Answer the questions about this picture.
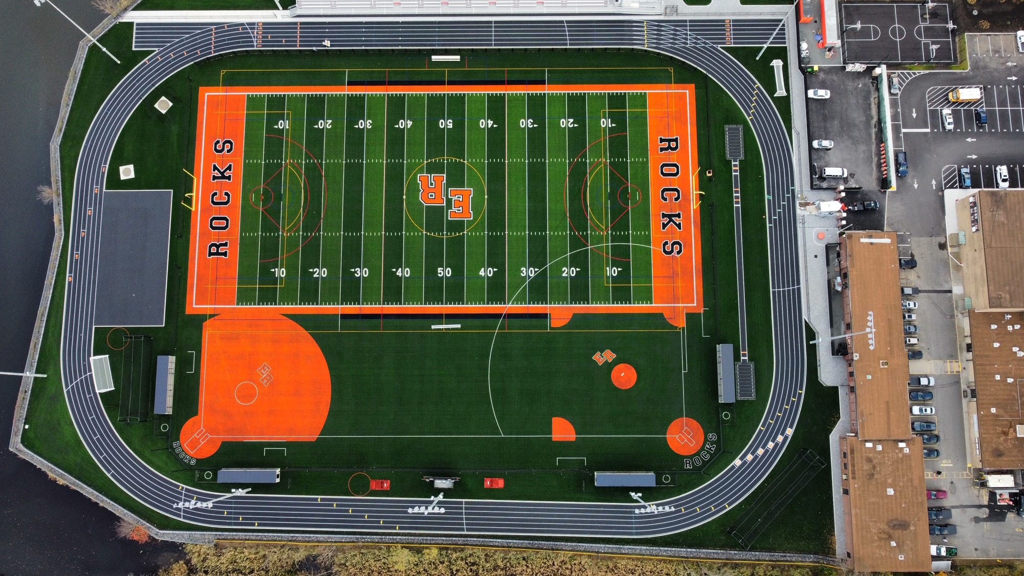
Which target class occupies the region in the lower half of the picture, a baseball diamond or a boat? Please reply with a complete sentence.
Looking in the lower half of the picture, you will find a baseball diamond.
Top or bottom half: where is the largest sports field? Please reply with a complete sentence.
The top half of the photo is where the largest sports field is.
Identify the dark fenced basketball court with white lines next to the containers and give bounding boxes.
[843,0,958,65]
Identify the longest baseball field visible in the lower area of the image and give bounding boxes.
[161,309,670,480]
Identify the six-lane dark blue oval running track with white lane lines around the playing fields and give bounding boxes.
[60,19,807,539]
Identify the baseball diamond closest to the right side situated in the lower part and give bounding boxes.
[488,243,730,483]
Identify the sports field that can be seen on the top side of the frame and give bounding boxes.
[186,57,703,332]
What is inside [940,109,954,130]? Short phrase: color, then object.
white car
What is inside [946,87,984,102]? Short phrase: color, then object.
white vehicle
